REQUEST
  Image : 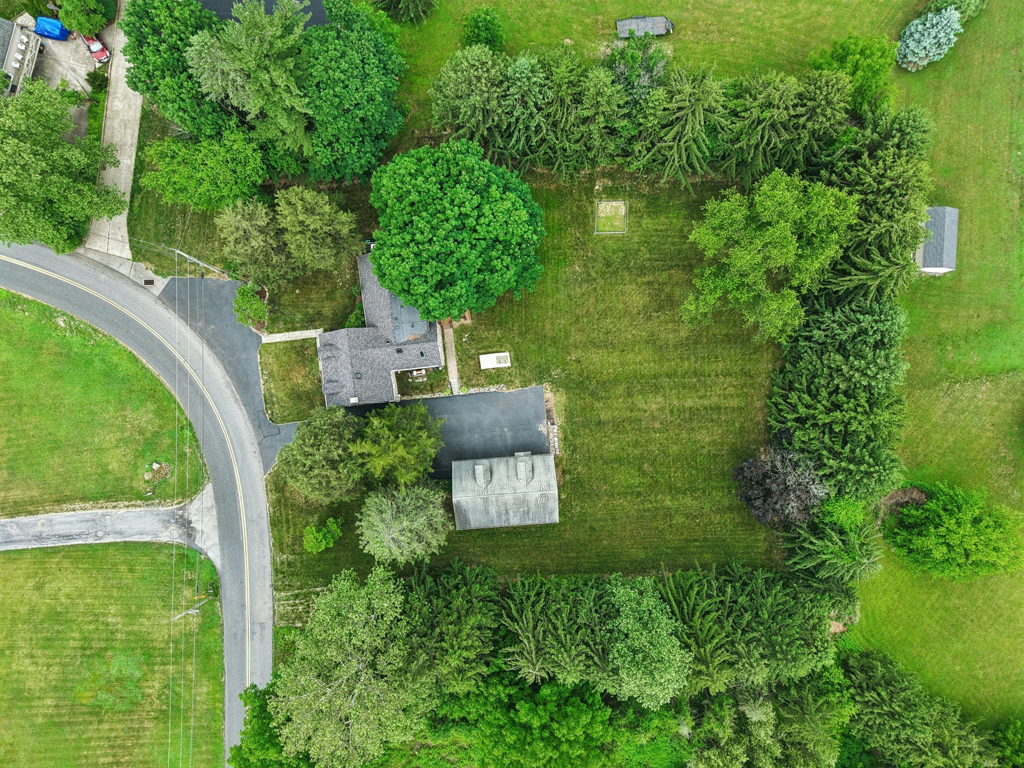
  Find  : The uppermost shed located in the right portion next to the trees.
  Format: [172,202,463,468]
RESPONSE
[906,206,958,273]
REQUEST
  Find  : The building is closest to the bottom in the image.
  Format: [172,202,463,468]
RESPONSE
[451,451,559,531]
